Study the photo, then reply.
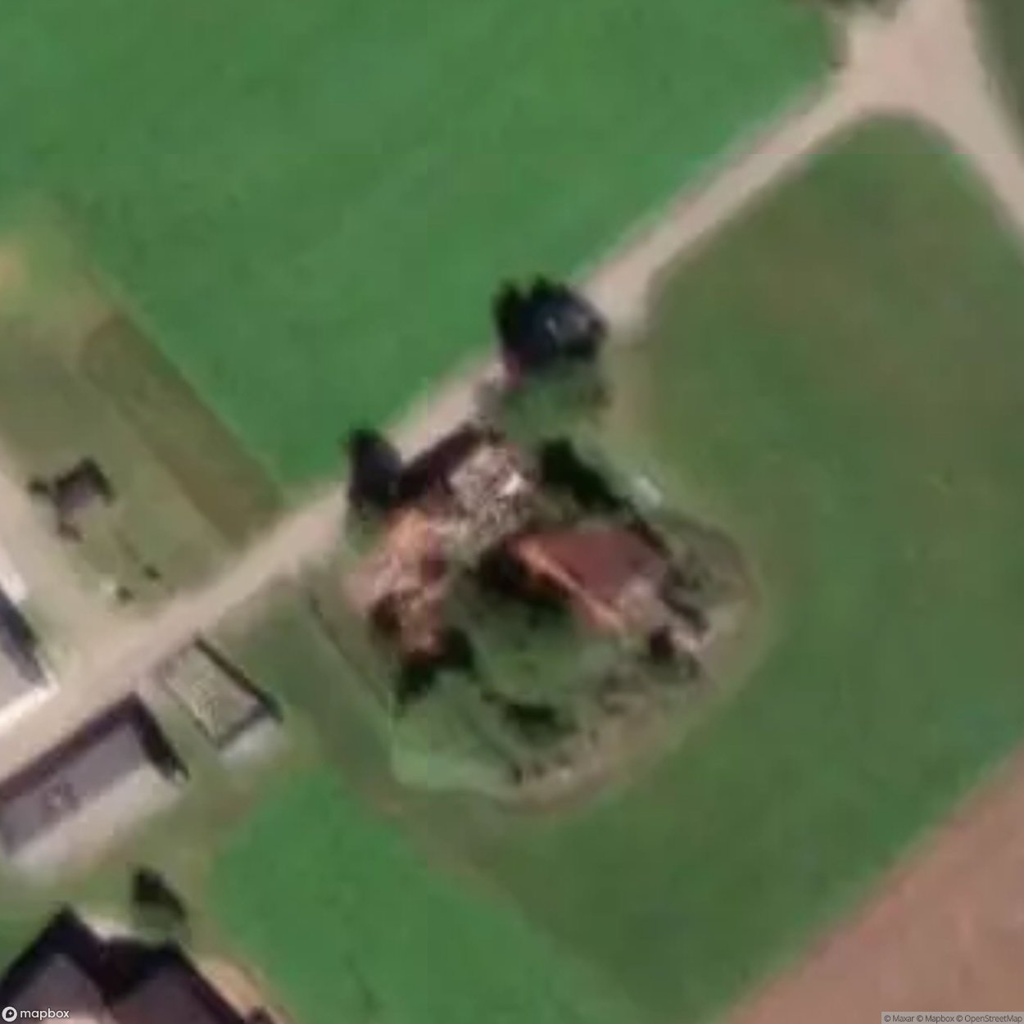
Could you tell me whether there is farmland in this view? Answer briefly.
Yes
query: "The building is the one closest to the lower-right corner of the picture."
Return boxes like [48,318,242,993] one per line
[516,524,675,631]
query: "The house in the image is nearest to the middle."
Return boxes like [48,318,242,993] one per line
[420,449,530,554]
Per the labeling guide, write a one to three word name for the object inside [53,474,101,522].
shed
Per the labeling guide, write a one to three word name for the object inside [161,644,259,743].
shed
